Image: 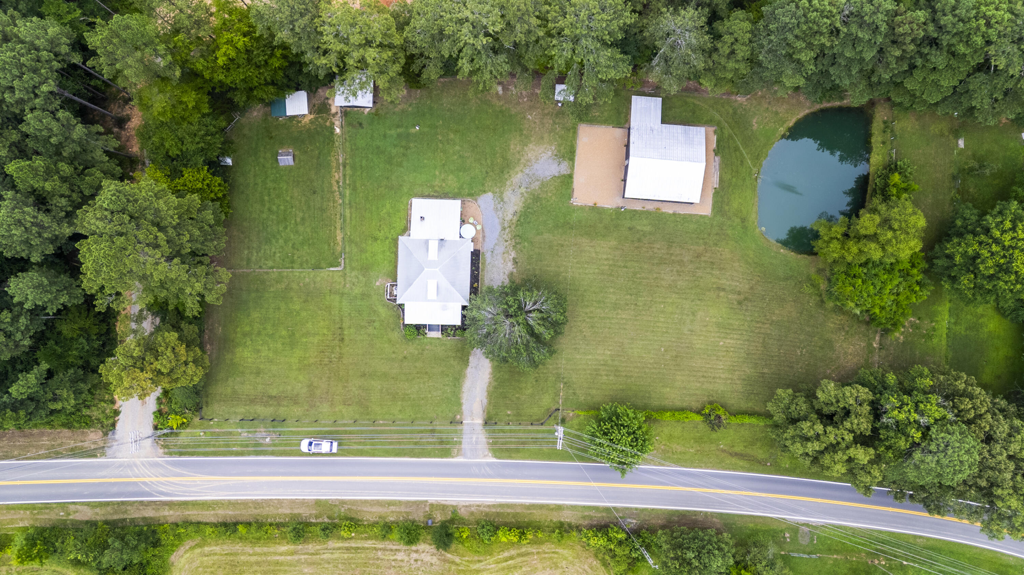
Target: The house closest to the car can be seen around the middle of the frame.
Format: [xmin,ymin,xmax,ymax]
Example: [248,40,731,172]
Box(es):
[396,198,474,332]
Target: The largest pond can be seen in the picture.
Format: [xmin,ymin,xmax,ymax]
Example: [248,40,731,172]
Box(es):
[756,106,871,255]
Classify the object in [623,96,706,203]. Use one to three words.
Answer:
barn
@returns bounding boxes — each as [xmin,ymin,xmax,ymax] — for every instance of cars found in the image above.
[301,438,338,456]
